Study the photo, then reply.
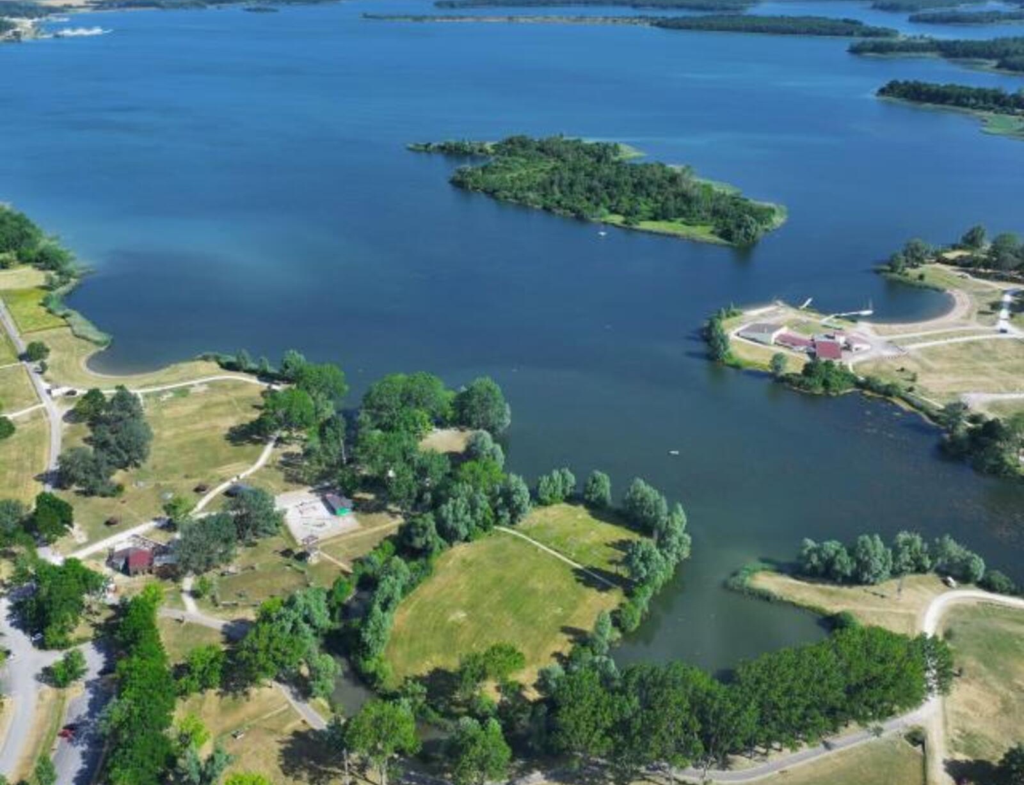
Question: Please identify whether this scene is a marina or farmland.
marina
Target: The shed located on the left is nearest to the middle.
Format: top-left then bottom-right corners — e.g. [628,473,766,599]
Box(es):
[328,487,352,519]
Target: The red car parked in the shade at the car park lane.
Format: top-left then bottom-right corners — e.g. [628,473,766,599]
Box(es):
[50,725,78,742]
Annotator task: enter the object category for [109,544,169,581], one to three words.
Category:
building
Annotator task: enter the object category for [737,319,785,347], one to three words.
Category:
building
